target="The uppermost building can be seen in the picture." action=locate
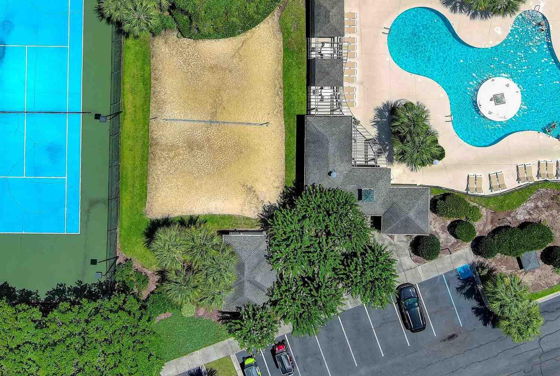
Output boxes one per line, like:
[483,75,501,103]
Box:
[314,0,345,38]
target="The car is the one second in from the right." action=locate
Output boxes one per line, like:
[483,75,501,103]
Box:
[268,334,298,376]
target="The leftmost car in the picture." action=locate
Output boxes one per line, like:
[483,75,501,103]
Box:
[240,352,265,376]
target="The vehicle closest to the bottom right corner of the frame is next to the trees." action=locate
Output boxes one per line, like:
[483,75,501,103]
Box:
[395,281,426,335]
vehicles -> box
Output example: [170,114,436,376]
[268,334,298,376]
[240,352,265,376]
[395,281,426,335]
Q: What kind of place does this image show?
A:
sports ground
